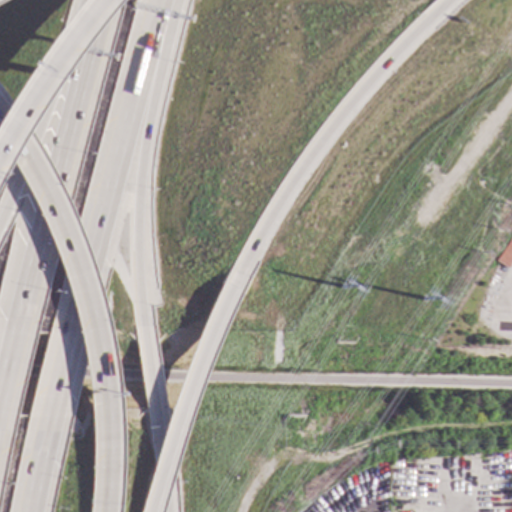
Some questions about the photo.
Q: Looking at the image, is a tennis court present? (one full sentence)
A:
No, no tennis court can be seen from above.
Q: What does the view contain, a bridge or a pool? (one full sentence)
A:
I can see a bridge in this picture.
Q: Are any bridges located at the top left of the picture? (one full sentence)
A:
Yes, a bridge appears at the top left of the picture.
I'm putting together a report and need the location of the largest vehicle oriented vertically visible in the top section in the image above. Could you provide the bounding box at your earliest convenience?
[131,39,149,98]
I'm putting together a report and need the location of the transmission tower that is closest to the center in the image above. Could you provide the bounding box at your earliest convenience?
[341,282,374,296]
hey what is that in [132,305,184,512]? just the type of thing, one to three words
bridge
